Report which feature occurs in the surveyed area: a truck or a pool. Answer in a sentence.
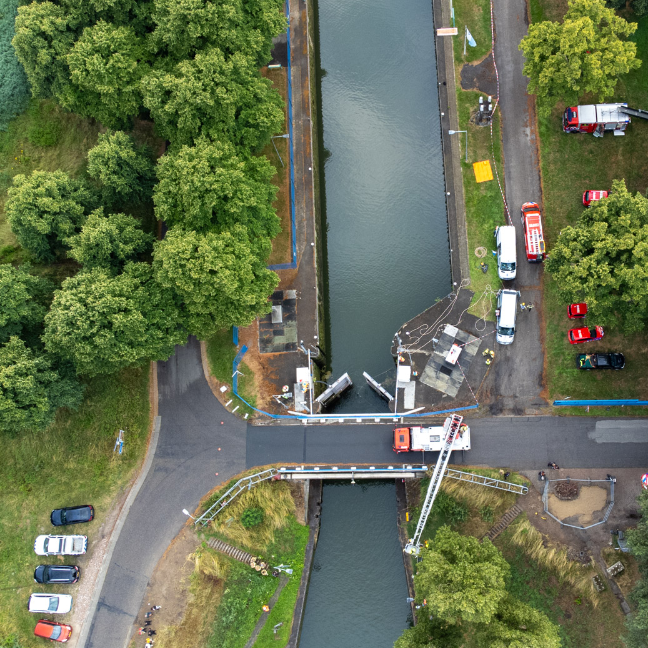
I can see a truck in this picture.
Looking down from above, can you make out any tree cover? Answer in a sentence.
Yes, tree cover can be seen from above here.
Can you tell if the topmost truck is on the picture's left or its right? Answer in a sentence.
It is on the right.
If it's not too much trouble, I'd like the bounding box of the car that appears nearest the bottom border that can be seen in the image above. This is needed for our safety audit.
[32,618,76,644]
